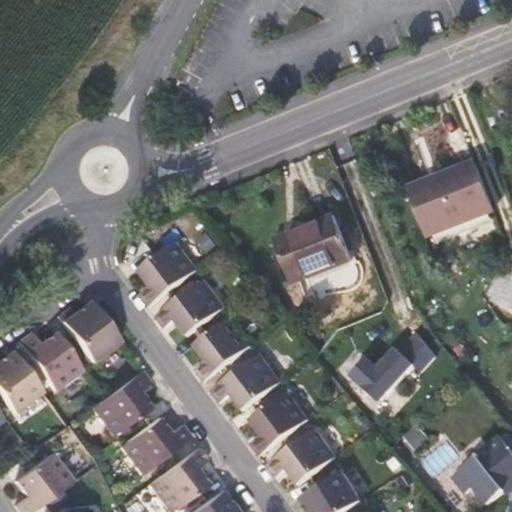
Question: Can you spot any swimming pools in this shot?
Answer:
Yes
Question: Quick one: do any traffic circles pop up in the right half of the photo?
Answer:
No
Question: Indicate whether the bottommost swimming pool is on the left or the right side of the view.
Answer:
right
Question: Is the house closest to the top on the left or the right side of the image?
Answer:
right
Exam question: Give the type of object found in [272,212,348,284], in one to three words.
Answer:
house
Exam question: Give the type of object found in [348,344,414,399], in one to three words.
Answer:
house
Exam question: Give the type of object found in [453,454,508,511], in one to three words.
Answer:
building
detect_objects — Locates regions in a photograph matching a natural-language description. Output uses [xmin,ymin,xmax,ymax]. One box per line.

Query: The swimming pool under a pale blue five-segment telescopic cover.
[419,436,463,482]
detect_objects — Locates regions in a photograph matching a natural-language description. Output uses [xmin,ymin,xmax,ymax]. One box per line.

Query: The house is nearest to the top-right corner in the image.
[404,160,494,241]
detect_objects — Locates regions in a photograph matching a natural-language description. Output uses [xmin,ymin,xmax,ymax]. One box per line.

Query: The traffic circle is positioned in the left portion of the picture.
[63,131,145,209]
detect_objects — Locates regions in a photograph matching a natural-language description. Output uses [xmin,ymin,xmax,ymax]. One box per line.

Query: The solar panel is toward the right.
[299,250,330,275]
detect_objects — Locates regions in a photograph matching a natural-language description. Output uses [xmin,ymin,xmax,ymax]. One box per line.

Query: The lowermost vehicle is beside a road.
[239,486,256,504]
